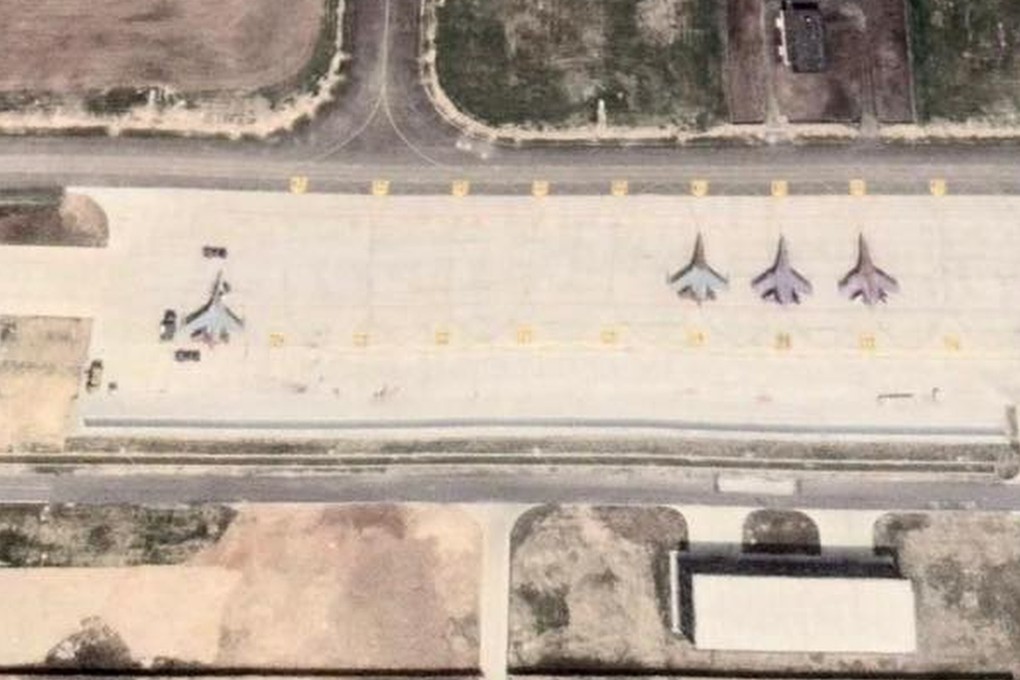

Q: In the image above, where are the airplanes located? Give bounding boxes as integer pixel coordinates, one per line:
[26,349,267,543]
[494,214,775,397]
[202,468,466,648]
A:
[754,235,813,308]
[840,237,899,307]
[180,276,242,349]
[669,237,729,307]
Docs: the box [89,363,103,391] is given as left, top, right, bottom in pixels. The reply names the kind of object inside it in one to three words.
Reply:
vehicle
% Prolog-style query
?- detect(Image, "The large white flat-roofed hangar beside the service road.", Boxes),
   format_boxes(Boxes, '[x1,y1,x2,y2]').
[693,573,915,651]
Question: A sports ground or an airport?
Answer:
airport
